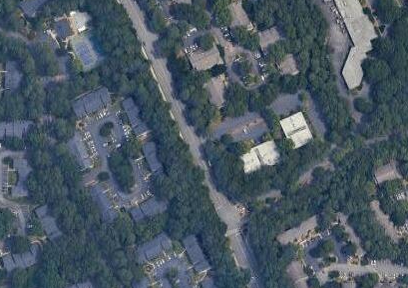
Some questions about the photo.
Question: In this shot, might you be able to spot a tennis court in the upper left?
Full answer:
Yes, in the upper left there is a tennis court.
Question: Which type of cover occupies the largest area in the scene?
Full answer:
The scene is dominated by trees.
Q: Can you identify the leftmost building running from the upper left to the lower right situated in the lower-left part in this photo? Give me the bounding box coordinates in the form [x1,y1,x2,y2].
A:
[33,205,61,240]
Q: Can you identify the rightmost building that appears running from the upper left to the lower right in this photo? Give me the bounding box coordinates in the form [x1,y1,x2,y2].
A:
[370,200,402,244]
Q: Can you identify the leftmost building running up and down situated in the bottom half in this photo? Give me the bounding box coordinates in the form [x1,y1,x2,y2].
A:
[13,156,31,196]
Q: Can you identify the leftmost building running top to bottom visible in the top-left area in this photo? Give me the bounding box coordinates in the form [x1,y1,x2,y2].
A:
[5,62,20,95]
